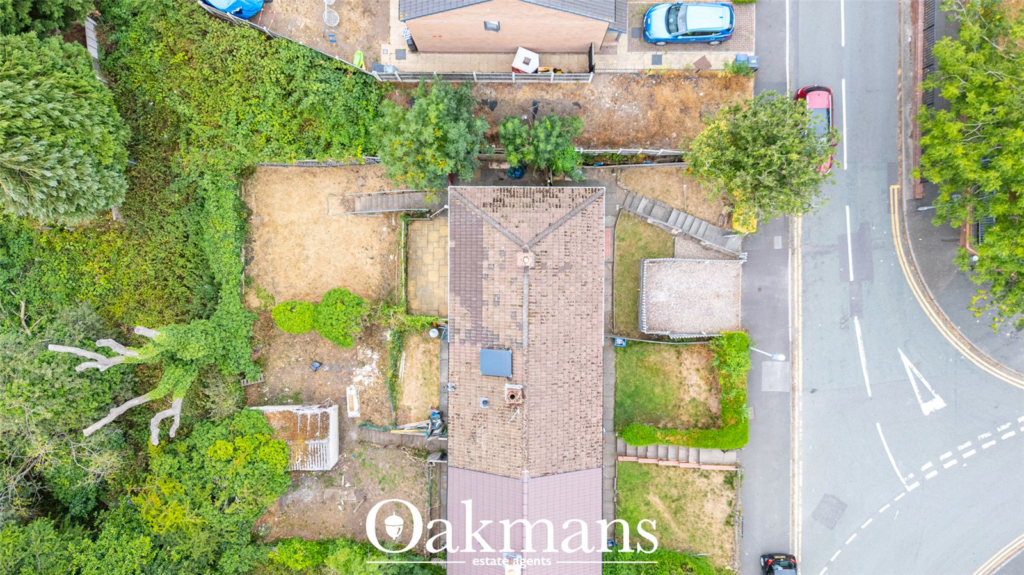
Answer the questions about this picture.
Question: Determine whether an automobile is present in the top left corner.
No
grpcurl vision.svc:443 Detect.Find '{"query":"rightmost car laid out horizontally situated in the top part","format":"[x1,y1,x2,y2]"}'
[641,0,735,46]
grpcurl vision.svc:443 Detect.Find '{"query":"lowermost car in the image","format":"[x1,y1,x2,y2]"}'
[758,554,798,575]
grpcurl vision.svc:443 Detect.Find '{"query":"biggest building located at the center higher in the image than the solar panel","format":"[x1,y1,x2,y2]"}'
[446,185,606,350]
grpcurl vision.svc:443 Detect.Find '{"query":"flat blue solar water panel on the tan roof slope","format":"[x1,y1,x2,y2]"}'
[481,346,513,381]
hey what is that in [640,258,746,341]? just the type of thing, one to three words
building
